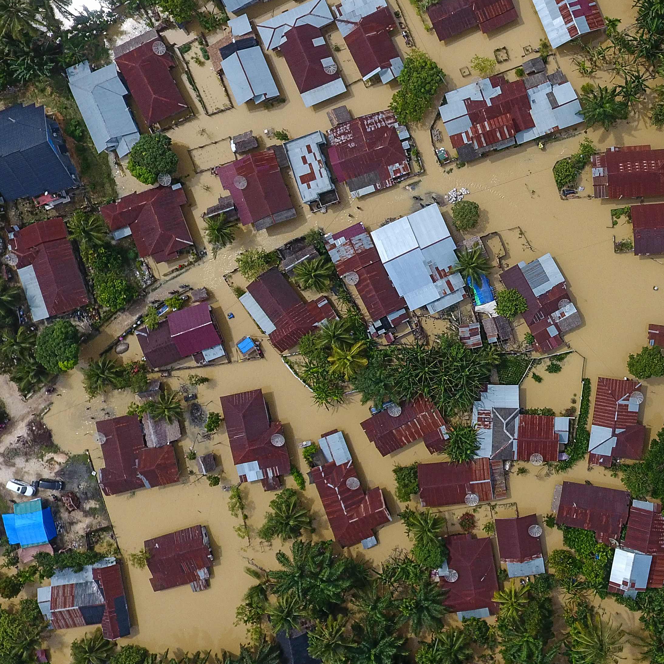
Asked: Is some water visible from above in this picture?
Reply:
Yes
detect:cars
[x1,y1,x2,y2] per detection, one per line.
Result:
[1,478,34,498]
[31,478,63,494]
